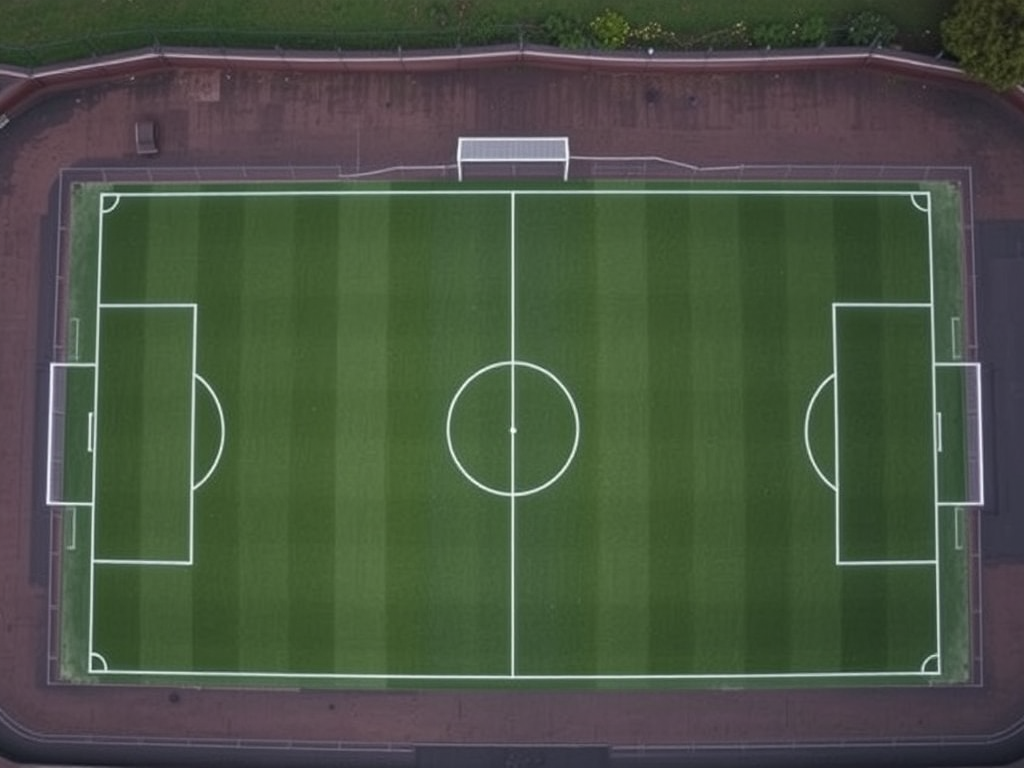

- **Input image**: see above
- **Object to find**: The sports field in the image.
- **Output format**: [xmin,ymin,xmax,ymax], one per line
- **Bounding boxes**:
[57,177,974,692]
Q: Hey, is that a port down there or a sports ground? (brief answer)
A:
sports ground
